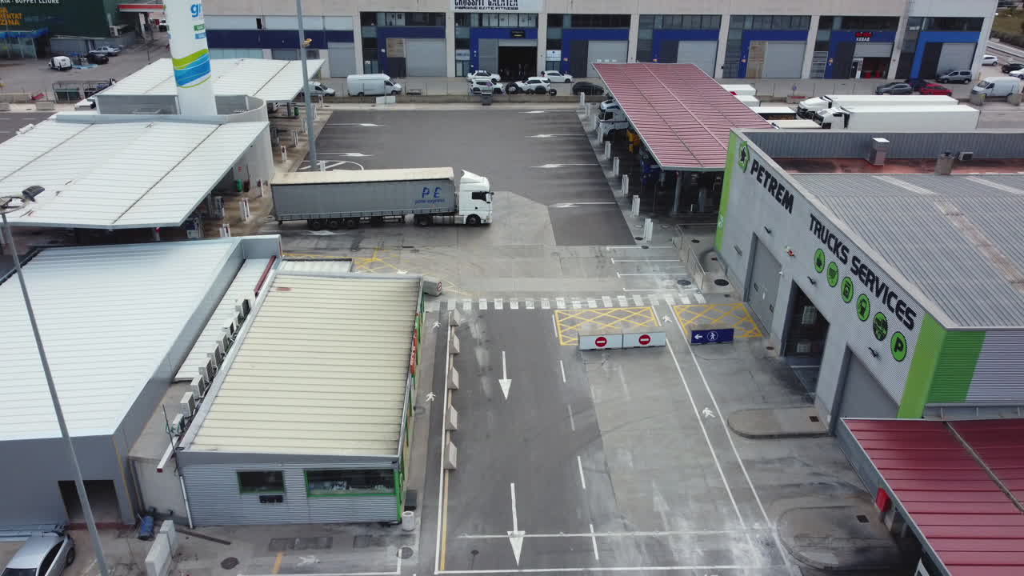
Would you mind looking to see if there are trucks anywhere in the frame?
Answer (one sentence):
Yes, the frame does contain a truck.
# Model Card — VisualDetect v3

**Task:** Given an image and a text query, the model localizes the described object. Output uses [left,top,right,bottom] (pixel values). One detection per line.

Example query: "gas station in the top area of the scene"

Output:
[124,0,164,39]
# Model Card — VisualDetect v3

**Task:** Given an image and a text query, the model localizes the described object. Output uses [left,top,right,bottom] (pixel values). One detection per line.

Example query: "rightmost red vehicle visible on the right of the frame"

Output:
[914,81,951,95]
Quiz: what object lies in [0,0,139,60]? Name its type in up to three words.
building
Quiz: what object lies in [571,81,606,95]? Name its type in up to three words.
car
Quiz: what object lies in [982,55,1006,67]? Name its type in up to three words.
vehicle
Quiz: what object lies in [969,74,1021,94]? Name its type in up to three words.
vehicle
